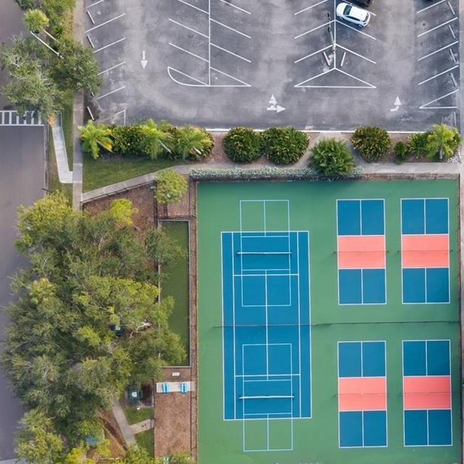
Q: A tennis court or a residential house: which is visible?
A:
tennis court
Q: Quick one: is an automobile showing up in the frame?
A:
Yes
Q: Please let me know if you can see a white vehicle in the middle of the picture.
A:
No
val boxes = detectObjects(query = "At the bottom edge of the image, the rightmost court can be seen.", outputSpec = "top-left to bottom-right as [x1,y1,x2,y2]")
[400,340,454,447]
